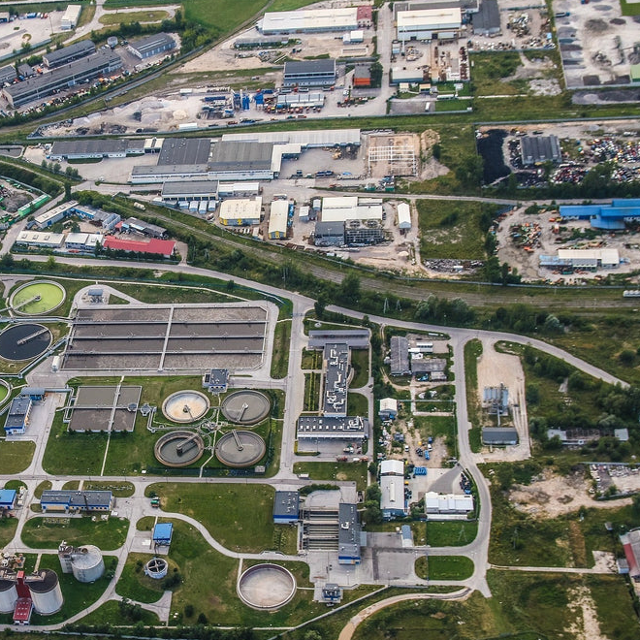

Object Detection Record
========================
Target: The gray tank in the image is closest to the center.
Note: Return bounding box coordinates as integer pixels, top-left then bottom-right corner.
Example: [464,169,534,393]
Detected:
[221,390,271,425]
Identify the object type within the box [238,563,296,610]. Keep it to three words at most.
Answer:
storage tank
